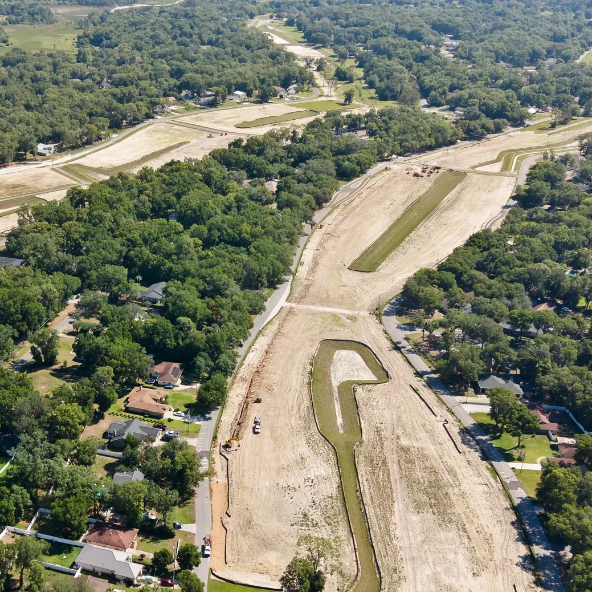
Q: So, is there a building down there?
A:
Yes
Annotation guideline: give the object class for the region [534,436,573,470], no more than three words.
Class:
house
